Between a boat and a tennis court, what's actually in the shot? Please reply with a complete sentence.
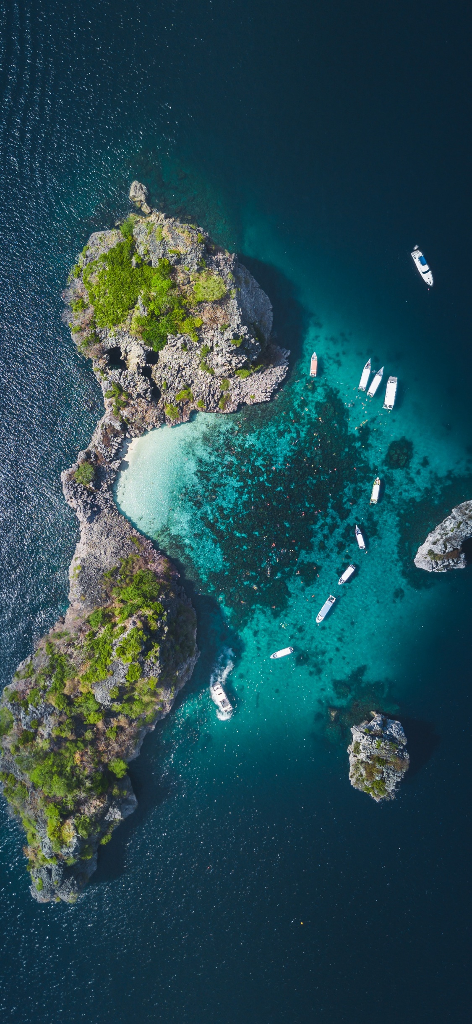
There is a boat in the scene.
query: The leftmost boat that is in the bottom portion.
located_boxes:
[215,683,233,712]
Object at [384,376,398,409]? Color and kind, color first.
white boat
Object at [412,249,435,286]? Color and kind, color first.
white boat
